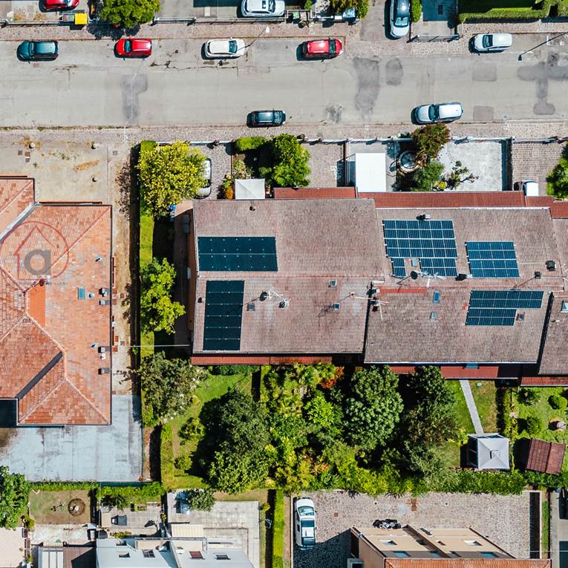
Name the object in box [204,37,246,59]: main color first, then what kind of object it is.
white car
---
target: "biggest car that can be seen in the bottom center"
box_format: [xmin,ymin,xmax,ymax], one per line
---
[294,498,319,546]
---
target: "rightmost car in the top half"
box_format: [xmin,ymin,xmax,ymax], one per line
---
[523,180,545,206]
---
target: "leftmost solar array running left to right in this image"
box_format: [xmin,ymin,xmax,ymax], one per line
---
[197,236,279,270]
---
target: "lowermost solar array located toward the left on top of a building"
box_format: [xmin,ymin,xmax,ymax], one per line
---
[203,282,245,351]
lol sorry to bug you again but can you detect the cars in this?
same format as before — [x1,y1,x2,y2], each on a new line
[240,0,283,17]
[294,498,319,546]
[204,37,246,59]
[116,37,152,58]
[412,102,463,124]
[469,31,512,52]
[387,0,412,38]
[19,38,59,60]
[301,37,341,59]
[248,108,284,128]
[195,155,216,198]
[523,180,545,206]
[42,0,79,12]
